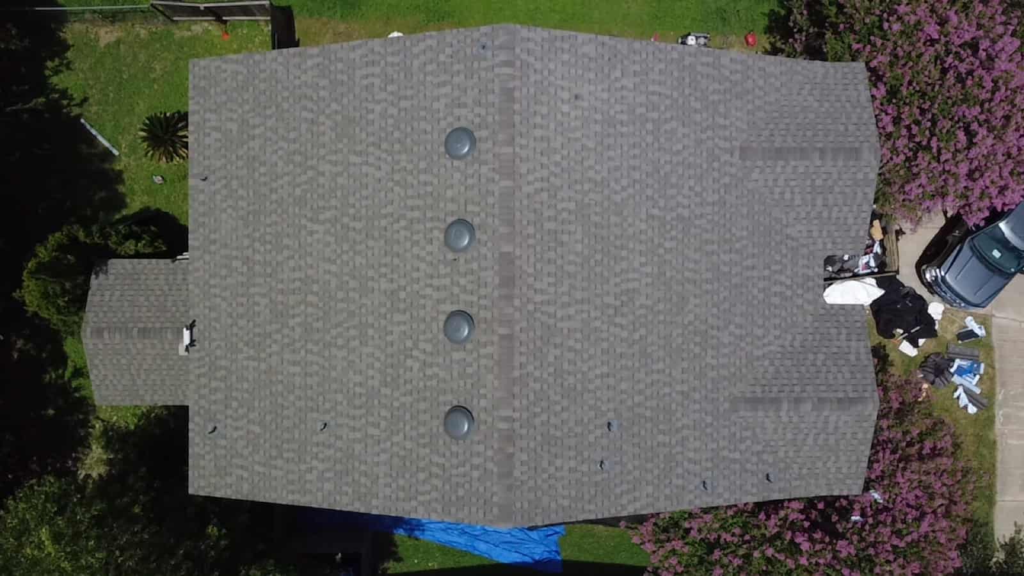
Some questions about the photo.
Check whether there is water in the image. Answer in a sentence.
No, water can't be seen anywhere here.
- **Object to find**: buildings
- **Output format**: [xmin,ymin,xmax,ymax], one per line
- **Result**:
[82,23,882,529]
